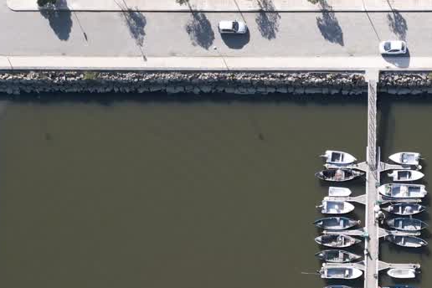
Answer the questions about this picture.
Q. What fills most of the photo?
water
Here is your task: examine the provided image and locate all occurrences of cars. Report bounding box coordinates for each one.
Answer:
[380,40,408,56]
[219,19,248,36]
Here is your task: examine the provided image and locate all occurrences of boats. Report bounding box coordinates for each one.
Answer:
[314,199,364,214]
[313,216,357,229]
[314,266,363,280]
[378,168,424,181]
[378,182,432,197]
[314,249,365,262]
[378,202,426,215]
[314,168,365,181]
[378,267,422,278]
[377,235,428,246]
[313,235,363,247]
[318,149,364,163]
[378,151,428,164]
[328,186,351,196]
[384,217,429,230]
